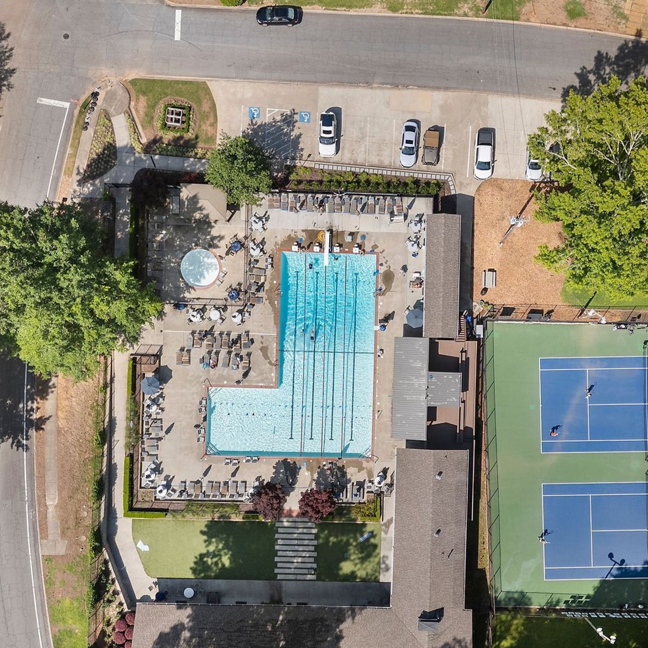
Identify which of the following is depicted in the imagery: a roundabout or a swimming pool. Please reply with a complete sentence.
Looking from above, you can make out a swimming pool.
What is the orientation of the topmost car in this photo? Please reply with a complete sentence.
The topmost car has been laid out from side to side relative to the frame.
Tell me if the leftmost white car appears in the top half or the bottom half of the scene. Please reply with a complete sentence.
Seen from above, the leftmost white car lies in the top half of the view.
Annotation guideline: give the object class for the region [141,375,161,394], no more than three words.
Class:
umbrella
